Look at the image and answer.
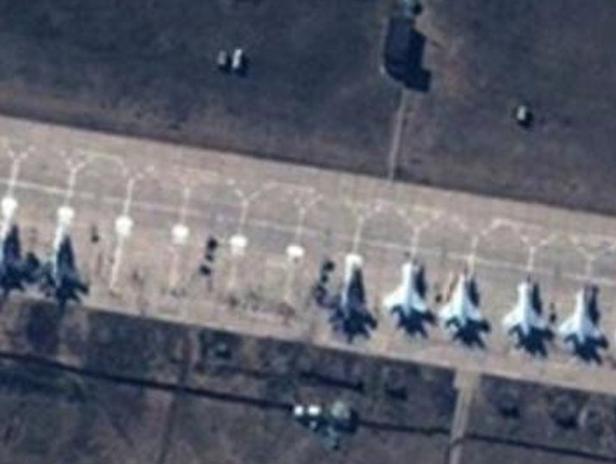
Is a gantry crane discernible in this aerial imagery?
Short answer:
No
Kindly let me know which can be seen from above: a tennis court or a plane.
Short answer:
plane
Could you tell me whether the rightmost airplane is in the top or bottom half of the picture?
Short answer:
bottom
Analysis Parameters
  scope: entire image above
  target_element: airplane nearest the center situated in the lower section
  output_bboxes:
[328,266,372,332]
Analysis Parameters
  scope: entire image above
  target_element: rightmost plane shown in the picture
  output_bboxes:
[559,283,603,352]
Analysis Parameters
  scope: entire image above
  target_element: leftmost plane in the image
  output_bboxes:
[0,221,29,289]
